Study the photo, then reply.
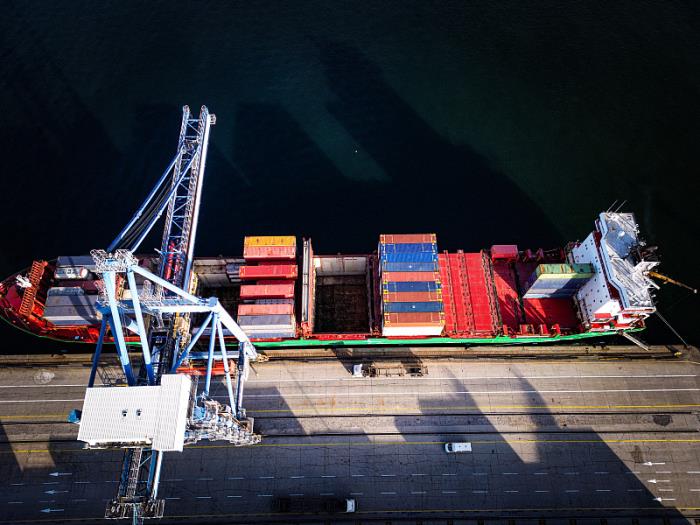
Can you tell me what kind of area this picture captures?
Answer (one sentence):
It's a port.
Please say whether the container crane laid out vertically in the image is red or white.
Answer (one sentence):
The container crane laid out vertically is white.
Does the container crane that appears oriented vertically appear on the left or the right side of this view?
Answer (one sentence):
The container crane that appears oriented vertically appears in the left half of the scene.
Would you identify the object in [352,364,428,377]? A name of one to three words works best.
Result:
vehicle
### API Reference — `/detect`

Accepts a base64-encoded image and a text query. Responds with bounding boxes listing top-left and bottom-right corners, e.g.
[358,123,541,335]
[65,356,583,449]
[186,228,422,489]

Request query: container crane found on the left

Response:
[67,105,269,525]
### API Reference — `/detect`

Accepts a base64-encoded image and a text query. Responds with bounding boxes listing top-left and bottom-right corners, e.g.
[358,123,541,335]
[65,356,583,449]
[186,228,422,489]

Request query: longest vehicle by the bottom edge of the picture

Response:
[279,498,357,514]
